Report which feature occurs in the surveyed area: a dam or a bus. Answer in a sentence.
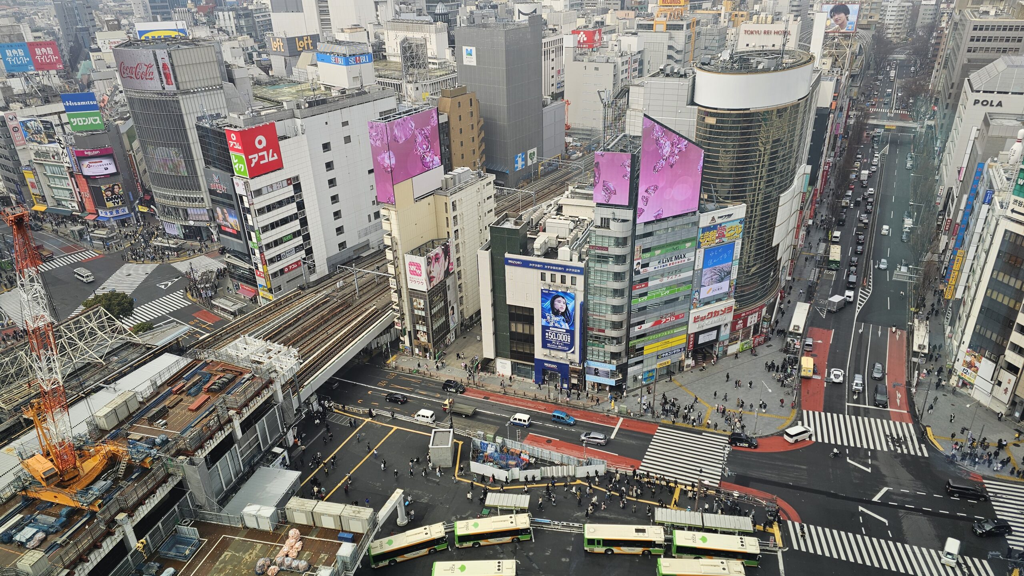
There is a bus in the scene.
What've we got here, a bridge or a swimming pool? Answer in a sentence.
The one in the frame is a bridge.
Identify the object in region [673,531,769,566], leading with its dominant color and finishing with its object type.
white bus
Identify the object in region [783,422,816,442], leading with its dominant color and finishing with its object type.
white vehicle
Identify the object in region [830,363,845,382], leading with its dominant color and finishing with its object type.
white car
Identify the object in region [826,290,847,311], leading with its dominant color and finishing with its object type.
gray truck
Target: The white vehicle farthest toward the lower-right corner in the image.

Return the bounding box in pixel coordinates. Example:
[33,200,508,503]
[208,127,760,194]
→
[941,528,965,566]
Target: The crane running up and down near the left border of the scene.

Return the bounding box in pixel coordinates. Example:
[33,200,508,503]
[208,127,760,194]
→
[0,195,162,525]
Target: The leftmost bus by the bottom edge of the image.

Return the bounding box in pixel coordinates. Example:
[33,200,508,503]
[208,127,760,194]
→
[367,519,455,568]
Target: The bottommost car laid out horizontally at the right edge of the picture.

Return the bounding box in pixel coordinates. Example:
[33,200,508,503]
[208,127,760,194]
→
[971,518,1017,539]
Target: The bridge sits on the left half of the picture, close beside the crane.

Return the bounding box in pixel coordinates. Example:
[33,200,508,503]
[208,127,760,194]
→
[146,254,390,460]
